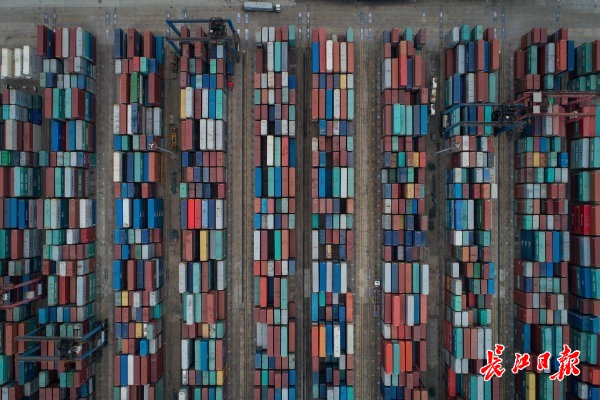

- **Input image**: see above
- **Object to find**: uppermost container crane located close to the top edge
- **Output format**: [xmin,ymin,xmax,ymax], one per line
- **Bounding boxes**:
[164,15,240,59]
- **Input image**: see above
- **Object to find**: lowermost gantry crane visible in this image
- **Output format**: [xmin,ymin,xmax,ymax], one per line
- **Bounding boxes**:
[15,320,106,365]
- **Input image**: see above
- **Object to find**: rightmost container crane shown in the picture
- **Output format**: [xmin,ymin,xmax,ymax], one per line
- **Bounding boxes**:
[506,92,597,126]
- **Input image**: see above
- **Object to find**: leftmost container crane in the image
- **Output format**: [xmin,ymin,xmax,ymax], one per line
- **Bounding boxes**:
[0,276,46,310]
